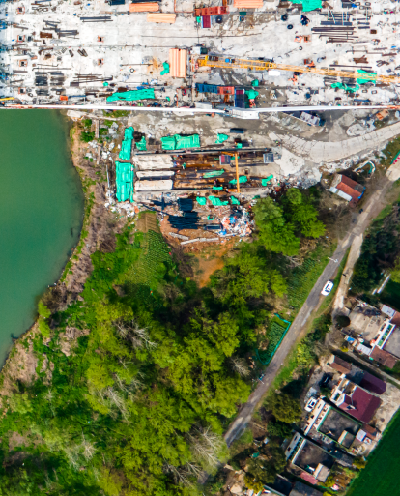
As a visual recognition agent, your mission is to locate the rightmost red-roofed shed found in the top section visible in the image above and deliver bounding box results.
[328,174,364,200]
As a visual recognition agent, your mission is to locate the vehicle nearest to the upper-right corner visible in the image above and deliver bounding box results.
[295,109,322,127]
